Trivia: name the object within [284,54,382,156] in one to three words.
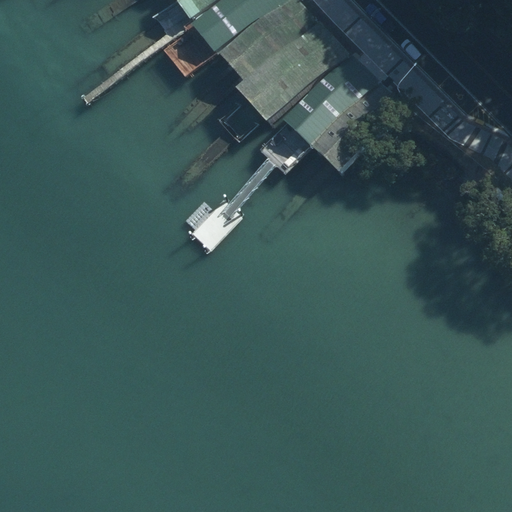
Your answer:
building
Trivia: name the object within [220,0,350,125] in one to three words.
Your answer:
building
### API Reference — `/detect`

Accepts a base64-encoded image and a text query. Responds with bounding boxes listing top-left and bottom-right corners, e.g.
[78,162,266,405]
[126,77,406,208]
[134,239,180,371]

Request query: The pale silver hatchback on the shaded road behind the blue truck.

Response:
[402,40,421,59]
